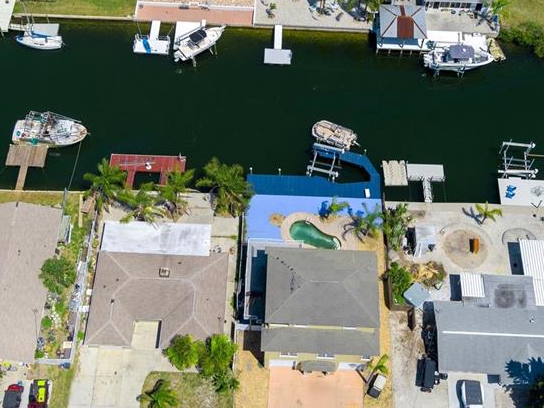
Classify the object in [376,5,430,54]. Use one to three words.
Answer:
building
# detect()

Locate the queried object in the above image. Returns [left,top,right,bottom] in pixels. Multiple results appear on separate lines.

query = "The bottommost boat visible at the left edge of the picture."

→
[10,110,89,143]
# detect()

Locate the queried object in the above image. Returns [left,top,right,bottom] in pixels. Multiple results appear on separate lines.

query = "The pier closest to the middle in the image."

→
[247,144,382,198]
